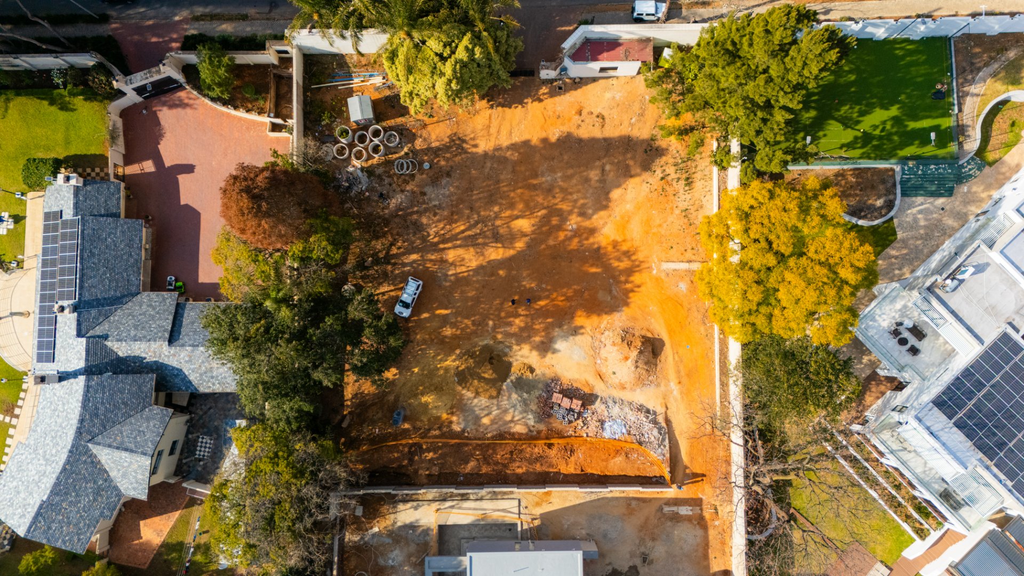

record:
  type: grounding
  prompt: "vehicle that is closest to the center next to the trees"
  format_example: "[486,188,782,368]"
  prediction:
[392,274,424,321]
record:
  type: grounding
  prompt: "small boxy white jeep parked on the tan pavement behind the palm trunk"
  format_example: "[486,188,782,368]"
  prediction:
[634,3,667,22]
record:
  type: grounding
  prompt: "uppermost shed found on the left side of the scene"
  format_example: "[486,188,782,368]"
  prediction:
[347,95,378,128]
